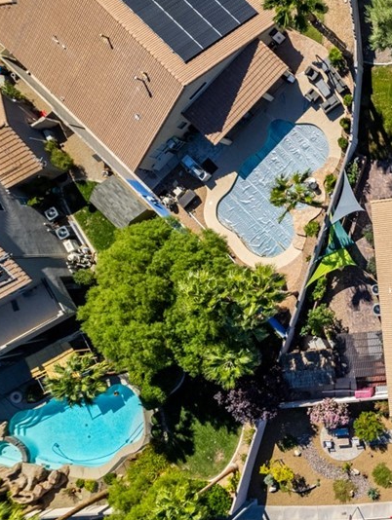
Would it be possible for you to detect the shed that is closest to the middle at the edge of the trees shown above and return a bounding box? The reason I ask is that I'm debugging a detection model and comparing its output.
[90,173,162,227]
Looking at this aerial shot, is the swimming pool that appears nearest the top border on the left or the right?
right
